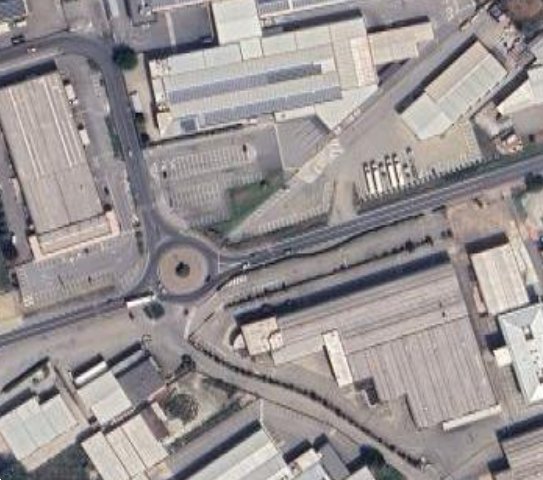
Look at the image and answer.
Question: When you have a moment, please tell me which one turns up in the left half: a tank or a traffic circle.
traffic circle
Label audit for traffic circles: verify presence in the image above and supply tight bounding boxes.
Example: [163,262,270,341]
[149,237,218,305]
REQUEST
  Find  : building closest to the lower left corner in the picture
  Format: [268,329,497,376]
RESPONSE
[0,395,81,471]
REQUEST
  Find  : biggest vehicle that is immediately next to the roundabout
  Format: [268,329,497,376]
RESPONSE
[126,293,155,306]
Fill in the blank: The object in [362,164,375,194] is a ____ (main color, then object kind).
white vehicle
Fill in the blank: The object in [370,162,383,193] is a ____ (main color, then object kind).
white vehicle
